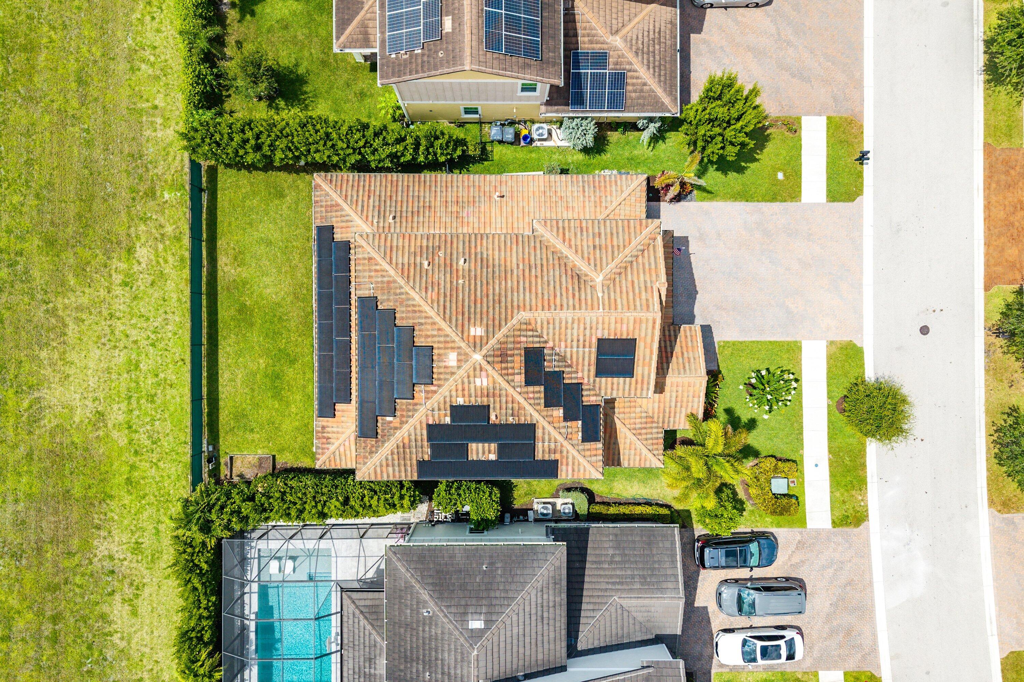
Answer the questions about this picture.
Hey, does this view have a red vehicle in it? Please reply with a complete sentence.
No, I can see no red vehicle in this picture.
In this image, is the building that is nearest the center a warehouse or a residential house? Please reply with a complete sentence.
I'd say the building that is nearest the center is a residential house.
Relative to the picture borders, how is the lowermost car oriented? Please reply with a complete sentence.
In this picture, the lowermost car lies from left to right.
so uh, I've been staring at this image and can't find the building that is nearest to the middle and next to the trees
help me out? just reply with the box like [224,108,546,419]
[312,173,708,482]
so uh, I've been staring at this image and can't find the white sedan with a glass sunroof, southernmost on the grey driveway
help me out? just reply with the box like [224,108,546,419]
[712,626,801,671]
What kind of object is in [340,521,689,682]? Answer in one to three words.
house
